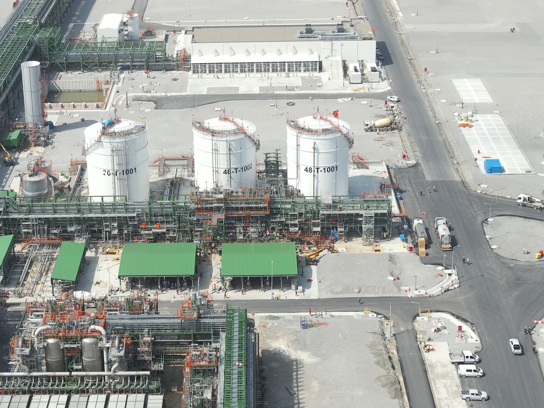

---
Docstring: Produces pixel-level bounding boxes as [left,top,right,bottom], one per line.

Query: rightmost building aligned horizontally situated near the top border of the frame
[189,15,376,80]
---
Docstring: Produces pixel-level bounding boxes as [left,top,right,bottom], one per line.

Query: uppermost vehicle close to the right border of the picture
[513,190,544,207]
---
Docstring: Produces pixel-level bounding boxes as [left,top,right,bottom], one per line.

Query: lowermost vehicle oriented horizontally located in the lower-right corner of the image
[459,386,490,400]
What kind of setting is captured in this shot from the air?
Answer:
industrial area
